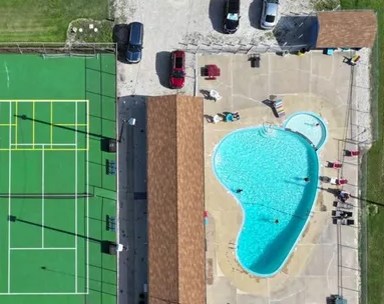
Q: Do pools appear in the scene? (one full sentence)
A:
Yes, the photo shows a pool.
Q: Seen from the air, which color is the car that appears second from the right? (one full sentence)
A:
From above, the car that appears second from the right appears black.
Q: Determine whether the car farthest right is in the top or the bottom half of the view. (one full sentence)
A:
The top half of the photo is where the car farthest right is.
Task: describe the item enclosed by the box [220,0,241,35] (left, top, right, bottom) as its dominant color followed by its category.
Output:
black car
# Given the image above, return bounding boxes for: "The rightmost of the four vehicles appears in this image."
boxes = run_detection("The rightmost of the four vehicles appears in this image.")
[259,0,278,30]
